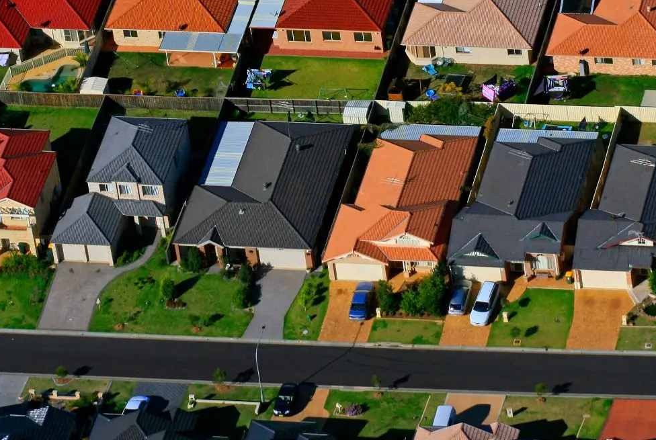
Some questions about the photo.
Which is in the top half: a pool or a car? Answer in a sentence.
The feature located in the top half is a pool.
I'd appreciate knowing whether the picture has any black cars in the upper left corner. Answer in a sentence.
No, in the upper left corner there is no black car.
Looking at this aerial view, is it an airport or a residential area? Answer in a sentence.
The picture captures a residential area.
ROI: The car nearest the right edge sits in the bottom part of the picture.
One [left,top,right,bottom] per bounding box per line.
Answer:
[470,283,500,322]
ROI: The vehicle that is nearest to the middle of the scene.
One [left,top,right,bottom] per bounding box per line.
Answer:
[349,287,375,319]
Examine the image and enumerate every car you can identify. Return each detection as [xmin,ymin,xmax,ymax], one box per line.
[470,283,500,322]
[446,285,472,315]
[117,392,152,414]
[349,287,375,319]
[271,383,301,420]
